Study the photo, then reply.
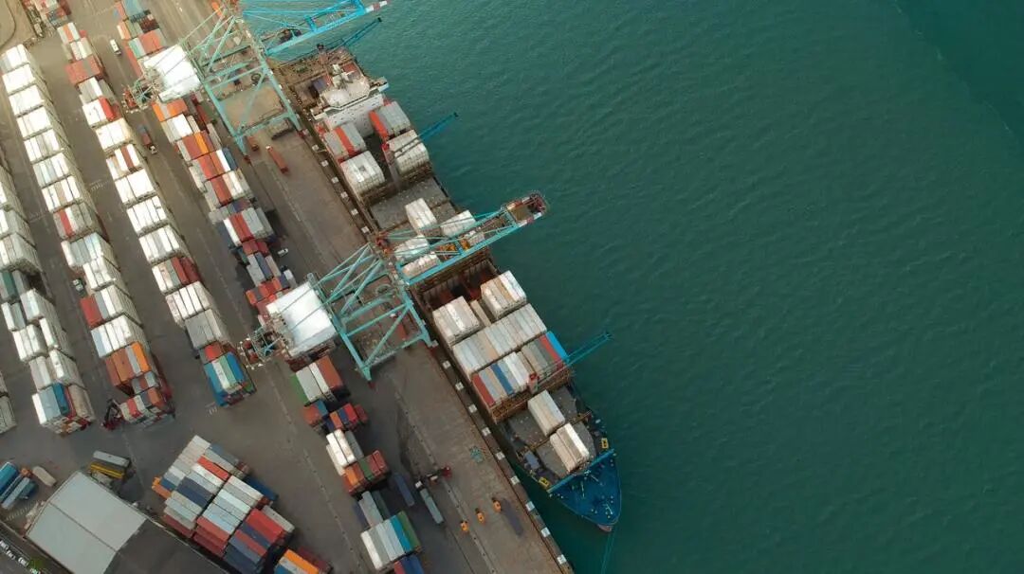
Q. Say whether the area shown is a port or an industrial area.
port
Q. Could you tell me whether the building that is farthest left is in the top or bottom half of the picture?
bottom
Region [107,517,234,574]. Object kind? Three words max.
shed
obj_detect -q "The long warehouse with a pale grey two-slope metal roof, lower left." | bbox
[21,470,149,574]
